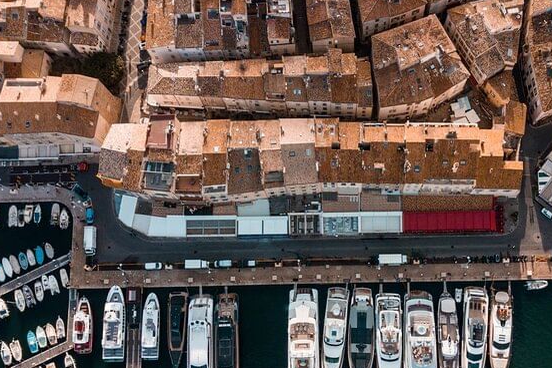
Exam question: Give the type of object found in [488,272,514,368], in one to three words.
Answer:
boat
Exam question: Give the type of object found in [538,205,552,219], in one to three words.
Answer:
car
